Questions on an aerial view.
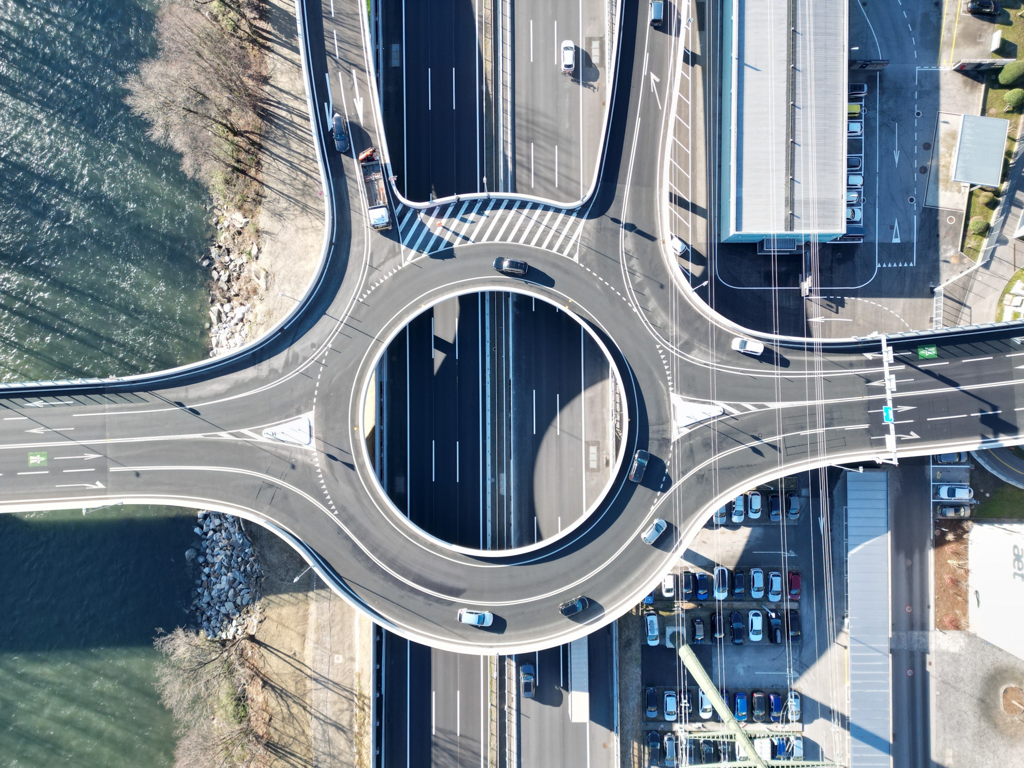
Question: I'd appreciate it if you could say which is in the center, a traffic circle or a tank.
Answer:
traffic circle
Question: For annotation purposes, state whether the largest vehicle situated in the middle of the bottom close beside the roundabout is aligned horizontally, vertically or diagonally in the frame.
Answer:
vertically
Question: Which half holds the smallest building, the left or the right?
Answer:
right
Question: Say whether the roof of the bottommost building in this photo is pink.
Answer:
No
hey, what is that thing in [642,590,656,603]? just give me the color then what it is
blue vehicle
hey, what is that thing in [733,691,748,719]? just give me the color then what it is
blue car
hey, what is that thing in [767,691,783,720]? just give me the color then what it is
blue car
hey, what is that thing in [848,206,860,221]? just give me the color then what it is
blue vehicle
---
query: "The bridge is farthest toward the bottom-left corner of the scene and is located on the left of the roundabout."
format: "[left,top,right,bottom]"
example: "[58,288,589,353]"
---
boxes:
[0,379,109,513]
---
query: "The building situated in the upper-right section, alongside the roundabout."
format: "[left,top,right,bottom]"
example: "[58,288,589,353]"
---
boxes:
[721,0,848,258]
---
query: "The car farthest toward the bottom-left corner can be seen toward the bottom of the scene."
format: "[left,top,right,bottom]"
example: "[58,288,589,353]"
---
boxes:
[457,607,493,626]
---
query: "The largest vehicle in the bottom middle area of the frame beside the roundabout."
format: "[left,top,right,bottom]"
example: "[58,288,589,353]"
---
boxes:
[569,633,589,721]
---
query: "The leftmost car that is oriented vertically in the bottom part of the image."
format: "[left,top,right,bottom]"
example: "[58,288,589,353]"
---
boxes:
[519,661,535,696]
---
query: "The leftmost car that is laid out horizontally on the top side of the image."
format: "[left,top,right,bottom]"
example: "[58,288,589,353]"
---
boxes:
[494,257,528,276]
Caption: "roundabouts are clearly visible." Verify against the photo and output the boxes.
[103,177,876,655]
